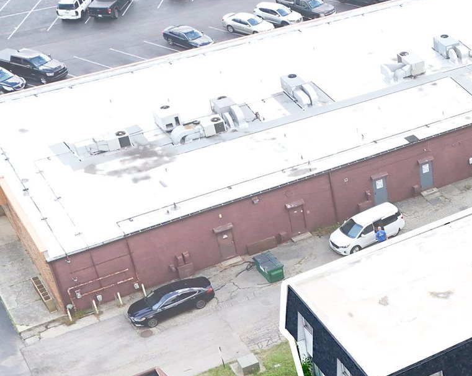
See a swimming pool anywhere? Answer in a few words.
No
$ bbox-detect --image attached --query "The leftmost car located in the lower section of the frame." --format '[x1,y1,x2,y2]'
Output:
[124,275,217,328]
